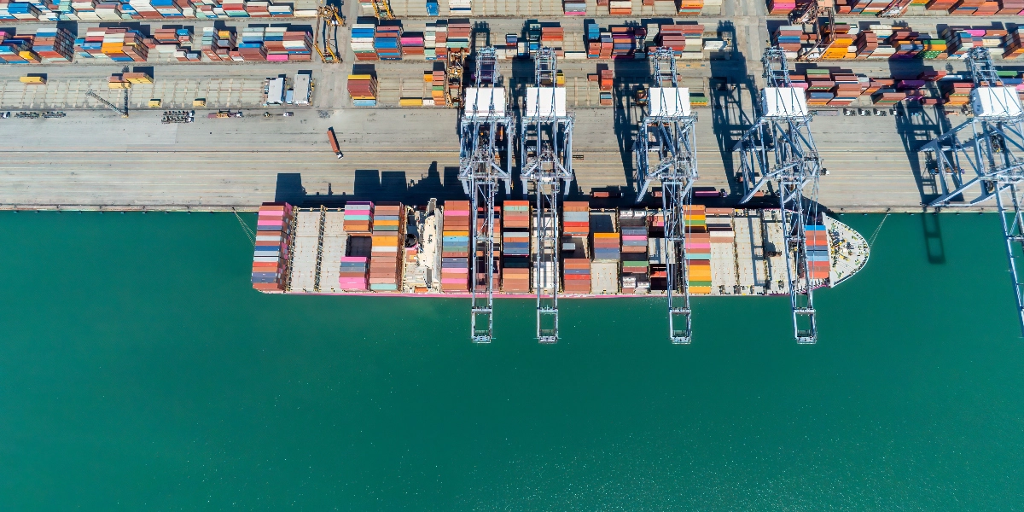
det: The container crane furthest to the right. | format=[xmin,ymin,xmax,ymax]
[917,42,1024,347]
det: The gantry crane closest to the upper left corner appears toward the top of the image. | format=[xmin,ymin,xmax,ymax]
[312,3,345,64]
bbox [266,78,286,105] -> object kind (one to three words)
shed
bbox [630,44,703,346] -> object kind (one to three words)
container crane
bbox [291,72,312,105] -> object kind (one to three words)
shed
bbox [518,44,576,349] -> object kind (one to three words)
container crane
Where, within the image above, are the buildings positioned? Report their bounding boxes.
[291,72,312,105]
[266,78,286,105]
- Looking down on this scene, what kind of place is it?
port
